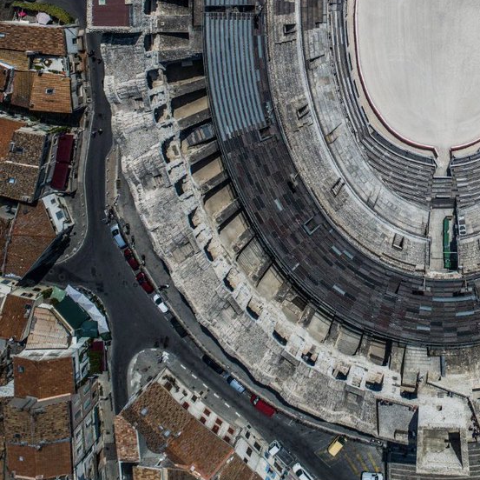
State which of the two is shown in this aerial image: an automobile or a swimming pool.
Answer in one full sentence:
Of the two, only an automobile appears.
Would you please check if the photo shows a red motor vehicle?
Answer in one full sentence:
Yes, there's a red motor vehicle down there.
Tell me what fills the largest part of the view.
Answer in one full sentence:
The scene is dominated by buildings.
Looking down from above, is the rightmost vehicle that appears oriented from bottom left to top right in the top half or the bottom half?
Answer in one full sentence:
The rightmost vehicle that appears oriented from bottom left to top right is in the bottom half of the image.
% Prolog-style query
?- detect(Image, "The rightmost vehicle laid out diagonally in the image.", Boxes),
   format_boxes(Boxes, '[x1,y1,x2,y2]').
[326,431,350,463]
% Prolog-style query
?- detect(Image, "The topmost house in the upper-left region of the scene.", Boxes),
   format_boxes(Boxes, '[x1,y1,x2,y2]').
[0,23,84,56]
